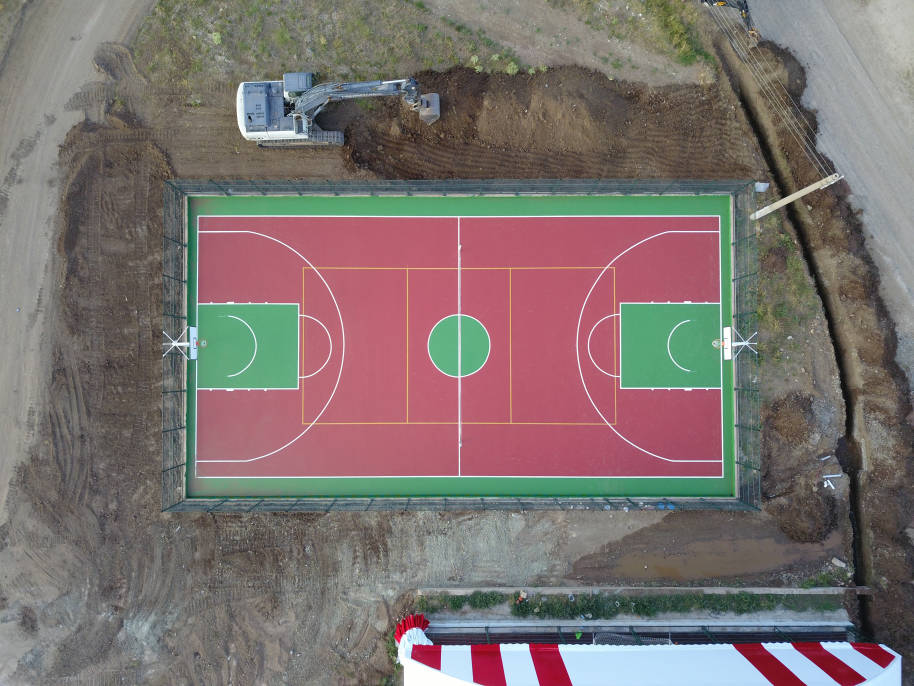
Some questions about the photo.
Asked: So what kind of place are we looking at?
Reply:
sports ground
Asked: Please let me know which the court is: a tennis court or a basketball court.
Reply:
basketball court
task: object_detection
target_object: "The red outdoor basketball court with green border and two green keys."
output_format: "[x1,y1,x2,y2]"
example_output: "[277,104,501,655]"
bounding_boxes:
[179,190,744,502]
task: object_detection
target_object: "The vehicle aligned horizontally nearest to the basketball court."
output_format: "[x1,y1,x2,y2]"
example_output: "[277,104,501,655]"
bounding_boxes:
[240,75,447,149]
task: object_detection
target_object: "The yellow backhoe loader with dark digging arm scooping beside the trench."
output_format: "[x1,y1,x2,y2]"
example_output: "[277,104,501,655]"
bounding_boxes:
[691,0,761,45]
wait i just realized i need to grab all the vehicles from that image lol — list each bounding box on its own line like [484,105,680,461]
[691,0,761,45]
[240,75,447,149]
